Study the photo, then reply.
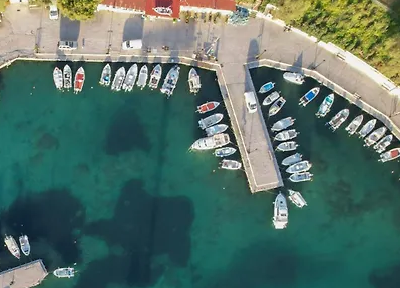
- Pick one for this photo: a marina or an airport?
marina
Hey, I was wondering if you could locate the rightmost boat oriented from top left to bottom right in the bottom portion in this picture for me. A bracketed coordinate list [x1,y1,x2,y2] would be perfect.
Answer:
[287,189,305,207]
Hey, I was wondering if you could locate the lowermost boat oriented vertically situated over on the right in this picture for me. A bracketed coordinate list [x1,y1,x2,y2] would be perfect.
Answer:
[269,185,289,231]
